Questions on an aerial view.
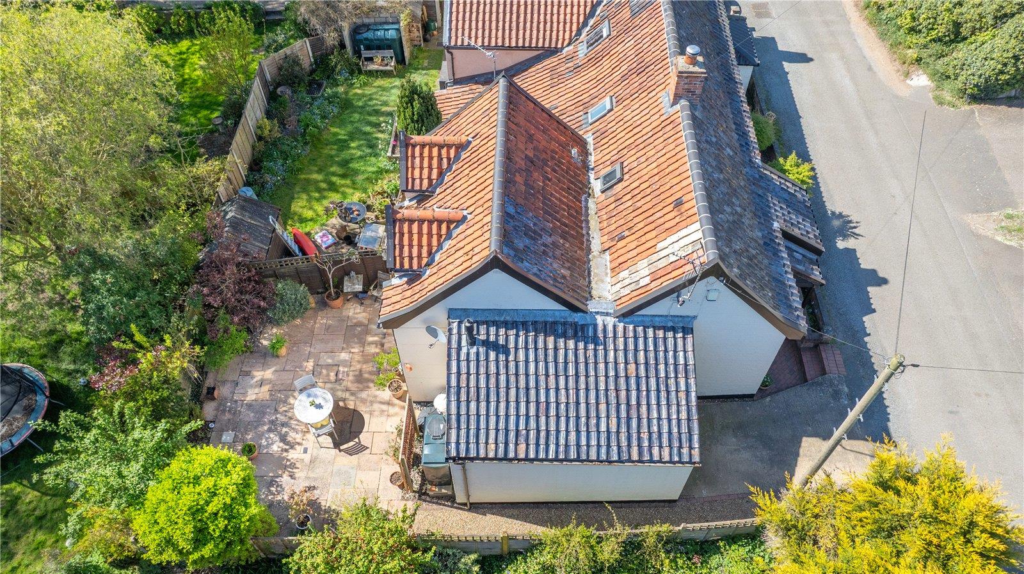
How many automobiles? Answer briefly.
zero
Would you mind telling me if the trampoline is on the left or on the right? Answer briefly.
left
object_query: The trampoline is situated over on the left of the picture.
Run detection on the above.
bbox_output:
[0,355,68,473]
